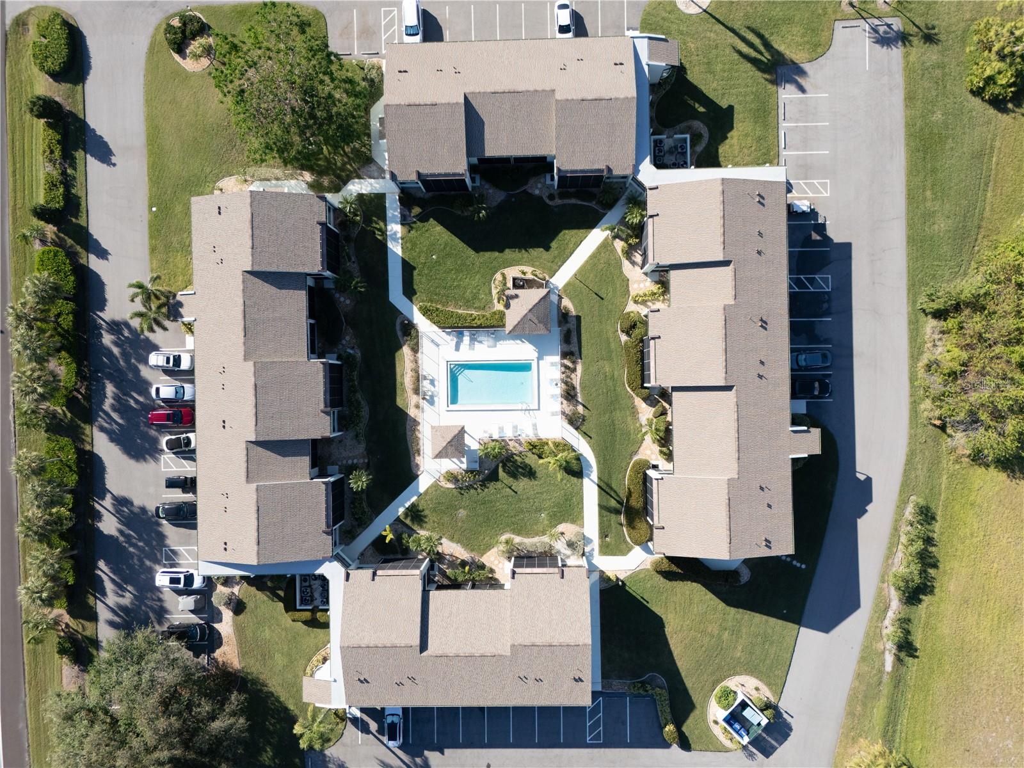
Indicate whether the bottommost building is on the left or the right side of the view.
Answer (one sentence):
You can find the bottommost building on the right side of the picture.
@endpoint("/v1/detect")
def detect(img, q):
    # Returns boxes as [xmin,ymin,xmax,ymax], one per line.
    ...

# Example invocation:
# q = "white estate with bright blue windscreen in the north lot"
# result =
[401,0,422,42]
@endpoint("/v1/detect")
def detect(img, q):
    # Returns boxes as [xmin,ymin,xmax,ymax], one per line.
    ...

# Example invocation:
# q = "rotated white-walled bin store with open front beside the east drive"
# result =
[712,683,785,759]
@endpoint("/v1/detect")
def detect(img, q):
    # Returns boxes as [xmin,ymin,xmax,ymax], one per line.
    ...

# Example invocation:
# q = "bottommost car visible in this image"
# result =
[383,707,404,748]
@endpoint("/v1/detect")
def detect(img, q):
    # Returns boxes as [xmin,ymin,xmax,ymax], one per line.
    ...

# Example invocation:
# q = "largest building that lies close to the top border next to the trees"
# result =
[384,35,635,196]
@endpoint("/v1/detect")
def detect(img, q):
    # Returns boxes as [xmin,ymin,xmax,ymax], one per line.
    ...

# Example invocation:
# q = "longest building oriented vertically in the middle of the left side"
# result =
[191,191,347,565]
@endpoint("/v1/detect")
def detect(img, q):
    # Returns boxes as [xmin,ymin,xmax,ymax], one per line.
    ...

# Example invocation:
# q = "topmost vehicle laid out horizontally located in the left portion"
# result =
[148,350,194,372]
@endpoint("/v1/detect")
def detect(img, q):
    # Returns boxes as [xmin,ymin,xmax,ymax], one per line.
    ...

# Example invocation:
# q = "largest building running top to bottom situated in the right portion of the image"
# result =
[637,176,795,560]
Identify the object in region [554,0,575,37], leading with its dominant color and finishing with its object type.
white car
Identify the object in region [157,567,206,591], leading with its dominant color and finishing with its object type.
white car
